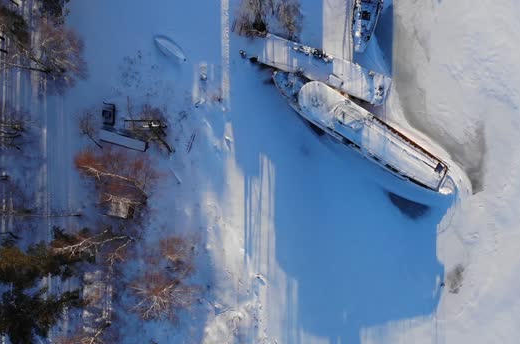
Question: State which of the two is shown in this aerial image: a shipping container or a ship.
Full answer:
There is a ship in the scene.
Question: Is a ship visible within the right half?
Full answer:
Yes, a ship appears within the right half.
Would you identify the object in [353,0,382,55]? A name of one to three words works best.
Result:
boat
